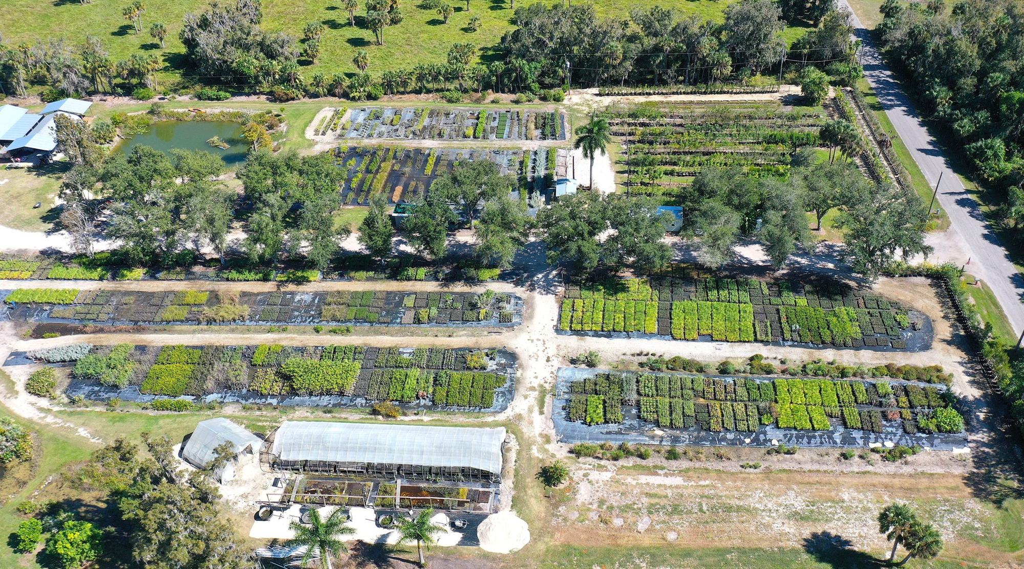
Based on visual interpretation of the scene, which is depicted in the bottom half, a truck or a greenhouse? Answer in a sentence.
You can see a greenhouse in the bottom half.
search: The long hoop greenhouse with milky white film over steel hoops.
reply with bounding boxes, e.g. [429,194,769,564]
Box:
[258,416,505,482]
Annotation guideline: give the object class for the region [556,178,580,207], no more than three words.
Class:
shed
